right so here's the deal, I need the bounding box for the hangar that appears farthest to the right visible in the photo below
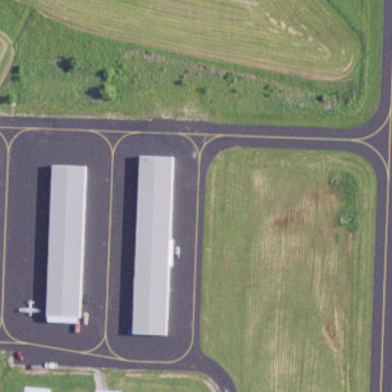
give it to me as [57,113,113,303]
[132,156,174,334]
